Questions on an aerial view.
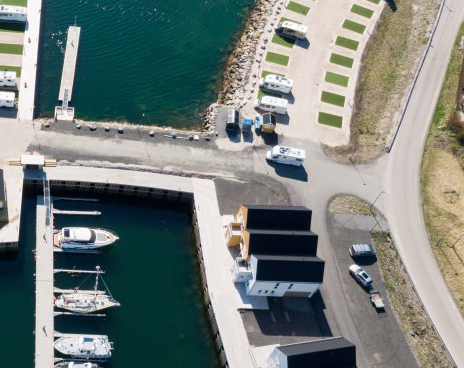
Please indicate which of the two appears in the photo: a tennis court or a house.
house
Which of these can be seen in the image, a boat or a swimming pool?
boat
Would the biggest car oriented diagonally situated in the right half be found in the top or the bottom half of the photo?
bottom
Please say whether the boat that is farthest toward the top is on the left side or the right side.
left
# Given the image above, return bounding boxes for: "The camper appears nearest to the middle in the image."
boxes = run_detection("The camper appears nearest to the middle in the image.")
[261,148,304,169]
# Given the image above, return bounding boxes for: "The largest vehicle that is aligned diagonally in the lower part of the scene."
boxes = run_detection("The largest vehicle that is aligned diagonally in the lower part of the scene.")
[347,264,374,289]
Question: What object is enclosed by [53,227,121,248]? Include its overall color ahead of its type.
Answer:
white boat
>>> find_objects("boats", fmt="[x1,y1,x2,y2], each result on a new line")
[53,271,119,312]
[53,227,121,248]
[54,335,117,360]
[56,361,104,368]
